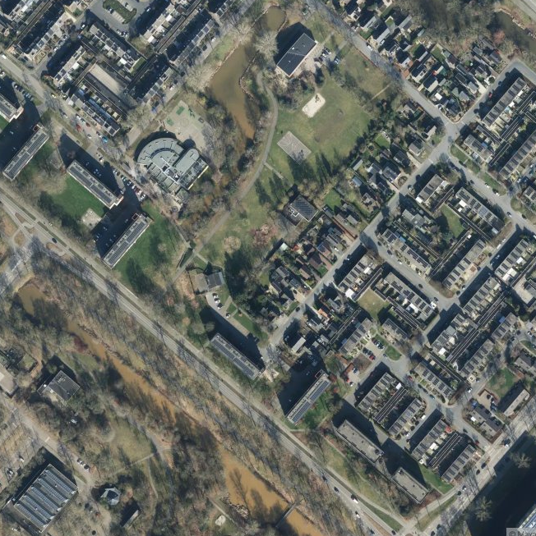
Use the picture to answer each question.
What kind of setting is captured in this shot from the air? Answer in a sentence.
This image shows a residential area.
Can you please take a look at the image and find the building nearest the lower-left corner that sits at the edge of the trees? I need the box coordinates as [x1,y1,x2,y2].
[2,464,77,536]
